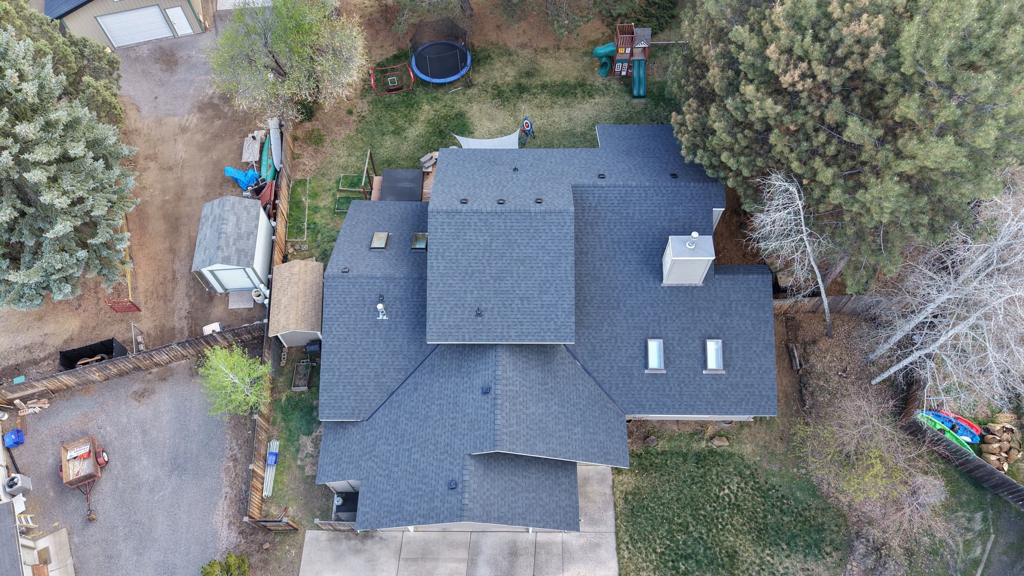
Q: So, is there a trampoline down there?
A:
Yes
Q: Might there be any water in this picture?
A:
No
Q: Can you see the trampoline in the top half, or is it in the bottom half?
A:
top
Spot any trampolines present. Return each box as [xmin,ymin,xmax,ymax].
[404,16,473,96]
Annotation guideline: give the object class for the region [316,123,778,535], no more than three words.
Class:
house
